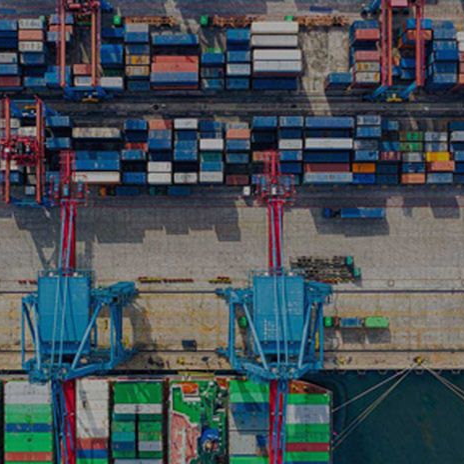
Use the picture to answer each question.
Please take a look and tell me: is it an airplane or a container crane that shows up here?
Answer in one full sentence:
It is a container crane that can be seen here.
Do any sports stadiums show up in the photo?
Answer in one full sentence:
No, there's no sports stadium here.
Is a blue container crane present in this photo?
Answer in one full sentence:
Yes, there's a blue container crane down there.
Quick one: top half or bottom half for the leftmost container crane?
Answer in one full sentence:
The leftmost container crane sits in the top half of the picture.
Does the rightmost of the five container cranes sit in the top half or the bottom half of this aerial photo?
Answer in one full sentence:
Seen from above, the rightmost of the five container cranes lies in the top half of the view.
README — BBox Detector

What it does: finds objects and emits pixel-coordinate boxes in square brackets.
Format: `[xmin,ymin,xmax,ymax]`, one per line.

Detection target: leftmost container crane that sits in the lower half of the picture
[19,148,136,464]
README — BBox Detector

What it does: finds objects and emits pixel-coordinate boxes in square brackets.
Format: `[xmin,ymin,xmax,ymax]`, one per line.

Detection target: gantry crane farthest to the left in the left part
[1,96,62,209]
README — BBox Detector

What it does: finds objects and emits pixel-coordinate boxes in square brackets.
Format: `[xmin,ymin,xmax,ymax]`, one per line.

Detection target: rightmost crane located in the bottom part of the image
[216,148,332,464]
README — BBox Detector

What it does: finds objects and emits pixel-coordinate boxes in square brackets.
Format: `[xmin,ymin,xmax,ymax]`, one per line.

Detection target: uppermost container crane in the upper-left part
[54,0,113,101]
